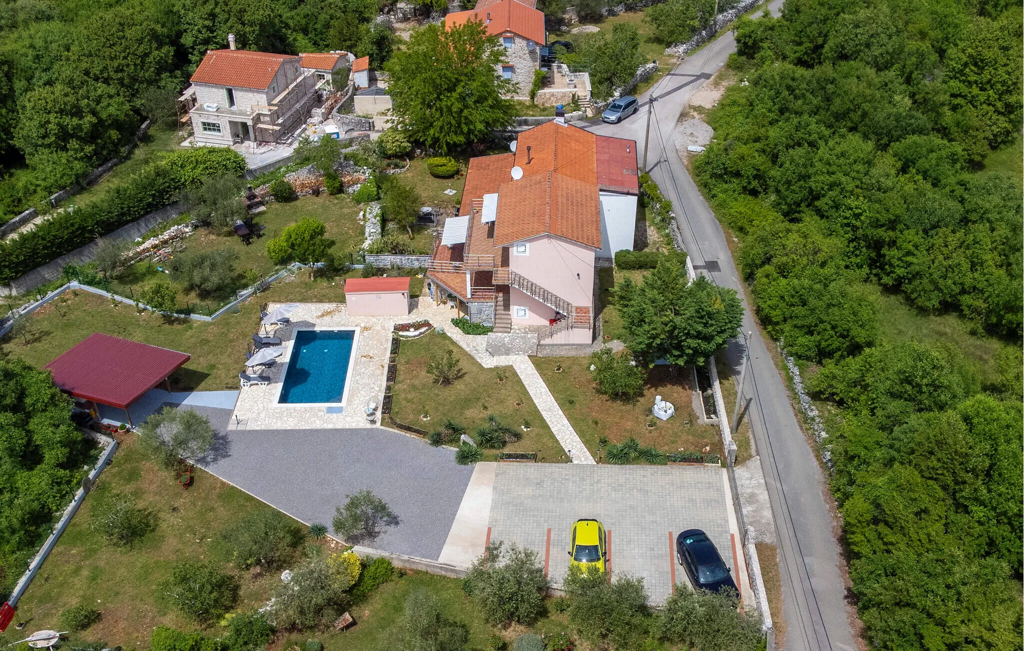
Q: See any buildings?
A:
Yes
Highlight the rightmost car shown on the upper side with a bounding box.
[600,95,638,123]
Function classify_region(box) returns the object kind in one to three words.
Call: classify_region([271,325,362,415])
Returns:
swimming pool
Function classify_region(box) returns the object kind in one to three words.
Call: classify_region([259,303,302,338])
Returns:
umbrella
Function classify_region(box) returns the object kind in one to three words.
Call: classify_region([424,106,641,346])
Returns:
house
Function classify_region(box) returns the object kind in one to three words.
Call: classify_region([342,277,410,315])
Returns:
shed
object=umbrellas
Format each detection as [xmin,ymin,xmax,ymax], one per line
[259,303,302,338]
[243,343,285,378]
